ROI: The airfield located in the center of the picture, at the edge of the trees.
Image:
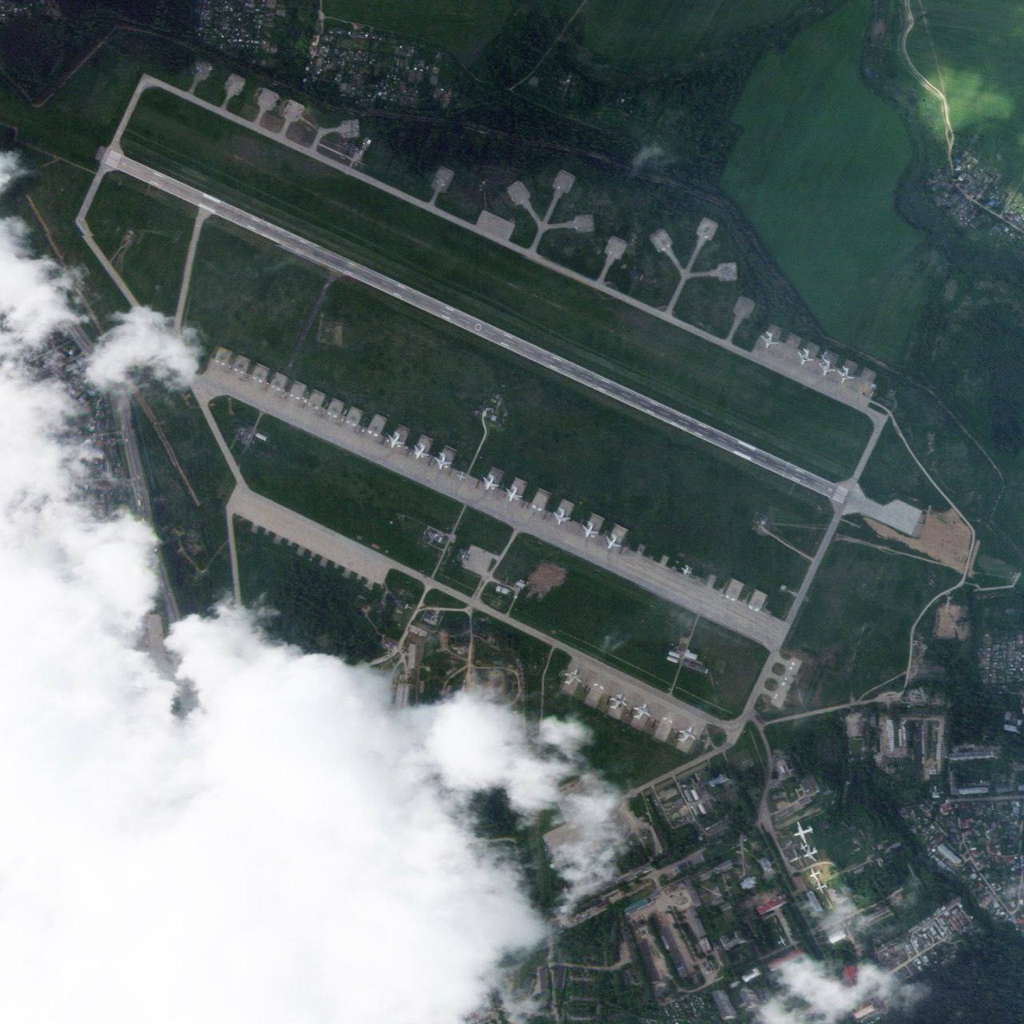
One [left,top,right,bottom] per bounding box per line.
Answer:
[79,64,928,752]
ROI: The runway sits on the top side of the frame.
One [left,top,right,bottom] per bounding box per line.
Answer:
[104,150,851,504]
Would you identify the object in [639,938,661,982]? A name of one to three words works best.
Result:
building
